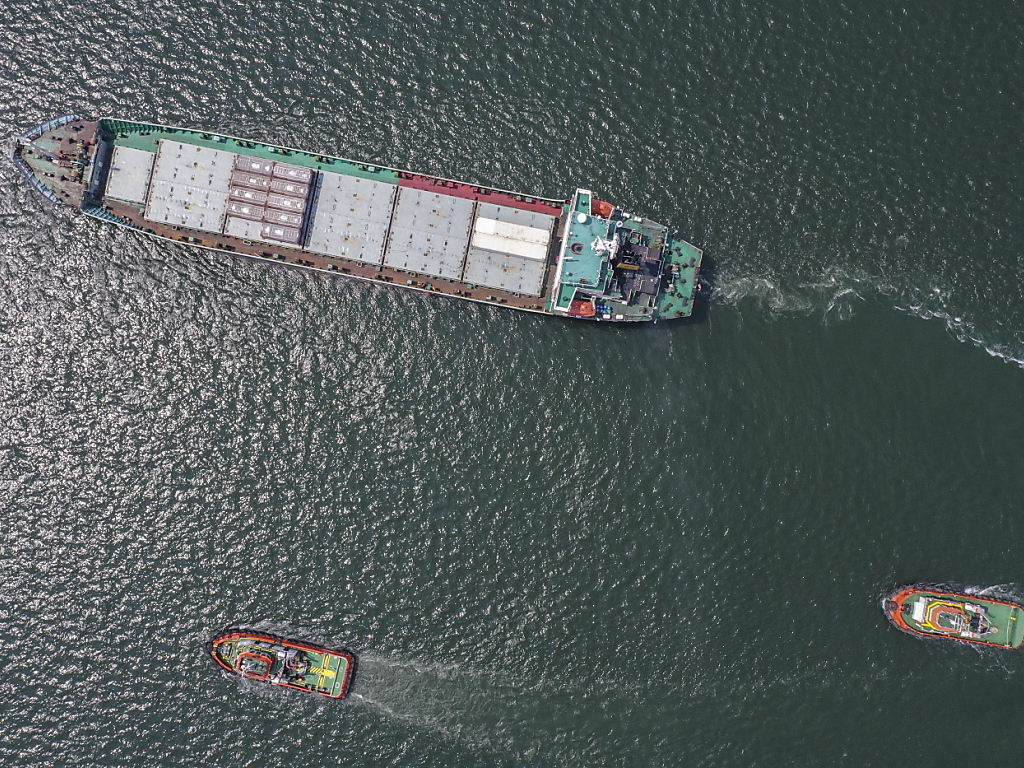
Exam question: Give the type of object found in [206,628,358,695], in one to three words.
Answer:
boat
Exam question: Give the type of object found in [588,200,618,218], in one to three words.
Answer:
boat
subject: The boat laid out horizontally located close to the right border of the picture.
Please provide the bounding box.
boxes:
[883,584,1024,647]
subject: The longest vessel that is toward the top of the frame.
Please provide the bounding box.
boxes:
[8,116,702,324]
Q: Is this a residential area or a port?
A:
port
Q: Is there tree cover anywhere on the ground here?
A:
No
